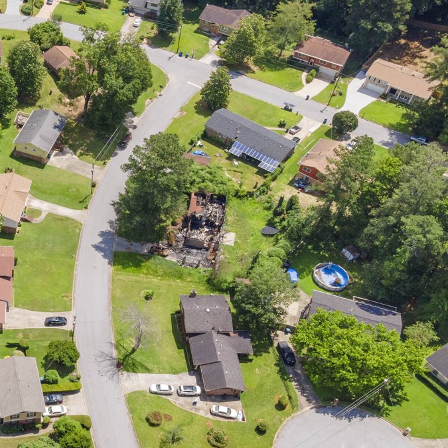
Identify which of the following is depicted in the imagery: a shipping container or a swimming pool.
swimming pool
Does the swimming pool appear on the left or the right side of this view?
right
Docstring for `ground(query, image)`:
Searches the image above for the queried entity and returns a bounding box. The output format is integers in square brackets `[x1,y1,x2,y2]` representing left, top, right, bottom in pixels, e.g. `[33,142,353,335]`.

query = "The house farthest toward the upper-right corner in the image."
[361,59,441,106]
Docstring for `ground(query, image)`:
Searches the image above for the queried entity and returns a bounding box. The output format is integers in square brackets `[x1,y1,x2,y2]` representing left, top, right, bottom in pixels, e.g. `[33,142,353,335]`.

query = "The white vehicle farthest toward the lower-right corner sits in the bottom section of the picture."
[211,404,241,421]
